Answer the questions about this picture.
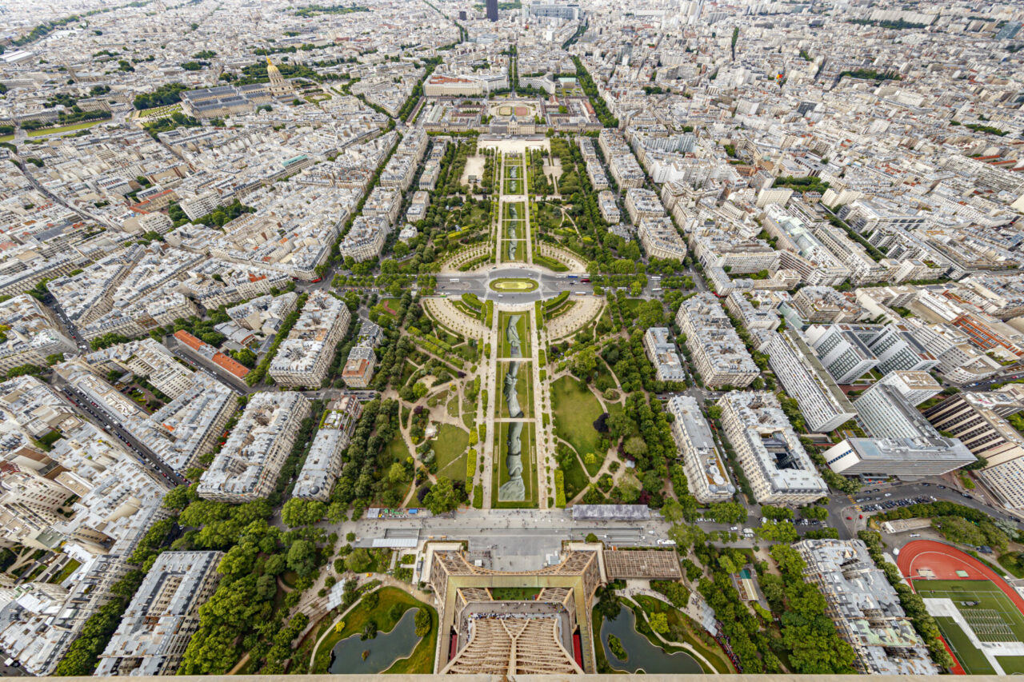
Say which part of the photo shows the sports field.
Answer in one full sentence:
The sports field appears toward the bottom right of the photo.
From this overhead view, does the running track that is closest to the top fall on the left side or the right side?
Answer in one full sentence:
It is on the right.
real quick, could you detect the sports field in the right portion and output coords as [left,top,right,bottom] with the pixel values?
[884,538,1024,674]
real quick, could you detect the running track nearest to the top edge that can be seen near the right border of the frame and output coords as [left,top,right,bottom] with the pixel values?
[897,540,1024,614]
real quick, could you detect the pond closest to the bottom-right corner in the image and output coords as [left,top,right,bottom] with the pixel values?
[602,610,702,674]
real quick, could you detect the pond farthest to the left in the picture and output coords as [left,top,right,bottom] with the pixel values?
[329,608,419,674]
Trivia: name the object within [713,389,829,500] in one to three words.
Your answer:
building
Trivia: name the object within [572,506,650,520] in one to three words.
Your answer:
tent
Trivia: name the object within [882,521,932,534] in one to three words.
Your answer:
building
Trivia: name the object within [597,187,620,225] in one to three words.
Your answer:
house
